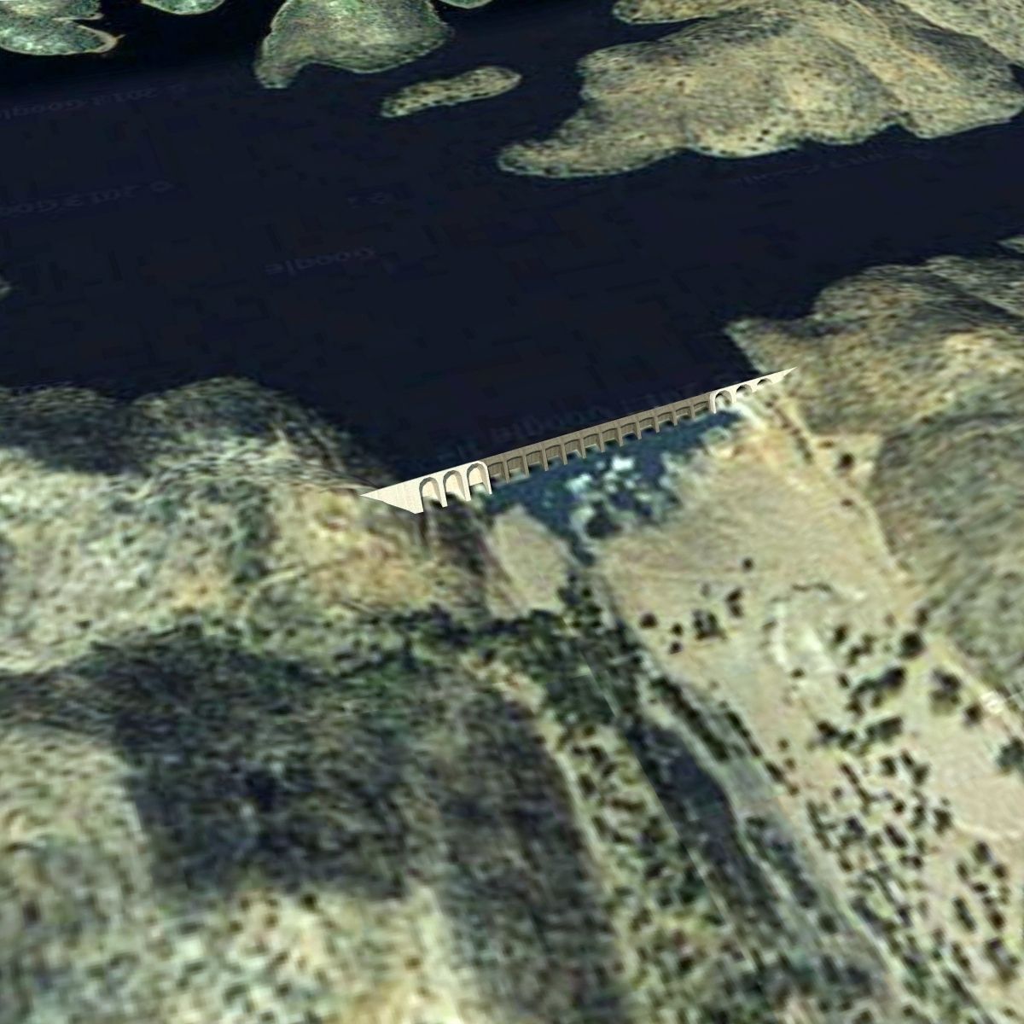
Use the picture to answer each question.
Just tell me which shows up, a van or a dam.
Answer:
dam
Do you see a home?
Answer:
No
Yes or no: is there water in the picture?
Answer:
Yes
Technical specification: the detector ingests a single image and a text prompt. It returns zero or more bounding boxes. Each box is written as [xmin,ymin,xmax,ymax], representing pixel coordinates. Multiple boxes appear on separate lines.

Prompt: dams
[359,367,798,517]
